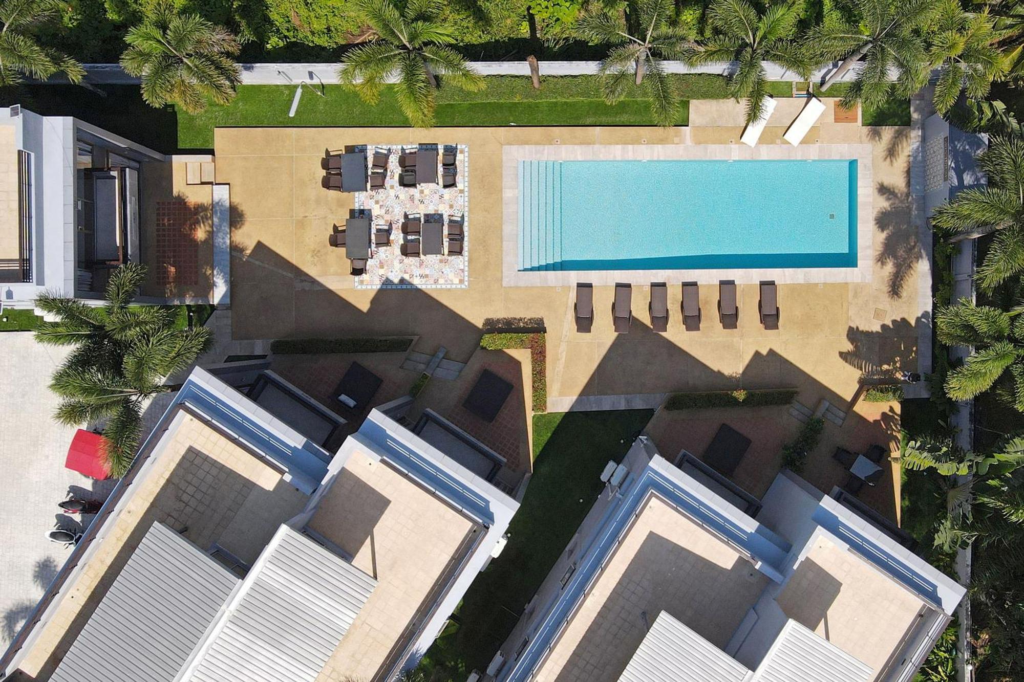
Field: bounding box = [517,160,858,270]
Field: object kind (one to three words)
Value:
swimming pool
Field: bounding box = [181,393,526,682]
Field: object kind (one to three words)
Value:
house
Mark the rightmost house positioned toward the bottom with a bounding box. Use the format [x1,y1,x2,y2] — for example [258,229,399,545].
[730,465,973,682]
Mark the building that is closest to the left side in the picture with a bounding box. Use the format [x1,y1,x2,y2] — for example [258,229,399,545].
[0,110,160,297]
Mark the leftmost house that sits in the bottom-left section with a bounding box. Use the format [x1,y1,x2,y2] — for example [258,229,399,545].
[0,359,346,682]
